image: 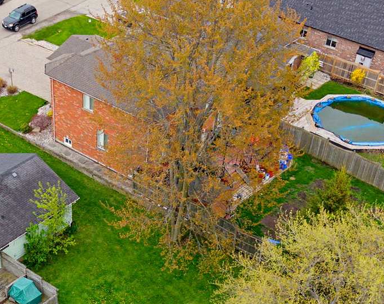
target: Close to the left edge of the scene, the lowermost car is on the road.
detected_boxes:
[5,5,45,33]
